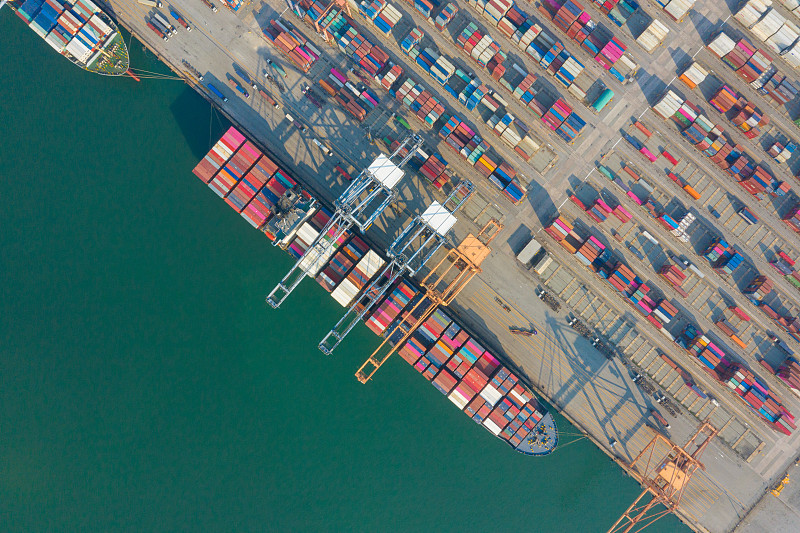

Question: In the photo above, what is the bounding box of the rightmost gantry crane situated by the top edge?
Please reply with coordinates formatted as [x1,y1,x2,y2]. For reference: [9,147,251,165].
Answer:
[313,0,352,44]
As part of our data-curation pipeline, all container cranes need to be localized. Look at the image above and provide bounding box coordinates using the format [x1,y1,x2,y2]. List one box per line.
[606,419,720,533]
[313,0,352,44]
[351,219,502,386]
[317,179,477,356]
[266,134,426,311]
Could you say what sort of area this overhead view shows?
port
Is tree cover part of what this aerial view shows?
No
